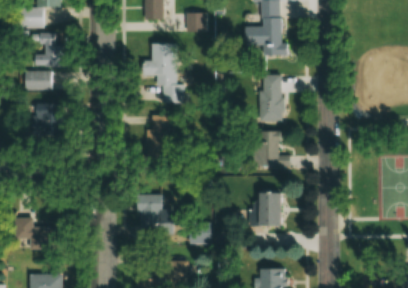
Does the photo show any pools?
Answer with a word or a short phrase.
No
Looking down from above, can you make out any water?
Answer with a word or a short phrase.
No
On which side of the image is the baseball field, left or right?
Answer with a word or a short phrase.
right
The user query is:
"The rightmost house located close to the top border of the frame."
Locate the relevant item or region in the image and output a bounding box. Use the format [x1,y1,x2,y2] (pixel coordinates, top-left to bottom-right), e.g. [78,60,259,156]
[244,0,288,55]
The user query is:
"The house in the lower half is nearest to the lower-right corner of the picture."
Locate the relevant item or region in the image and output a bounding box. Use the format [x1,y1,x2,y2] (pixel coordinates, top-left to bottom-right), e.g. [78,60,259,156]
[253,268,290,288]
